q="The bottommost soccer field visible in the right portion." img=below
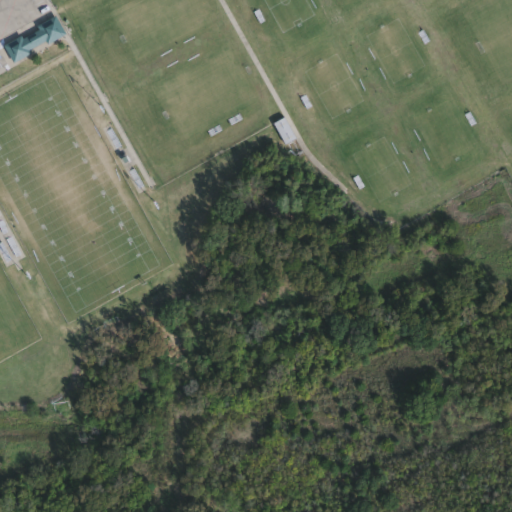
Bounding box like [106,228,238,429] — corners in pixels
[353,136,412,202]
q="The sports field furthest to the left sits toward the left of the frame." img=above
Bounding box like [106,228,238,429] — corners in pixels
[0,71,164,316]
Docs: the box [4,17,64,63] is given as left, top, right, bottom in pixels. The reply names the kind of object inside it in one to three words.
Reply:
building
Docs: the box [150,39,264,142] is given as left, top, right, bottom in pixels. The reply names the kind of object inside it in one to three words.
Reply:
soccer field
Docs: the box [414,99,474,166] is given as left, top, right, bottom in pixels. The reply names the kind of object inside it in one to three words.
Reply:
soccer field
